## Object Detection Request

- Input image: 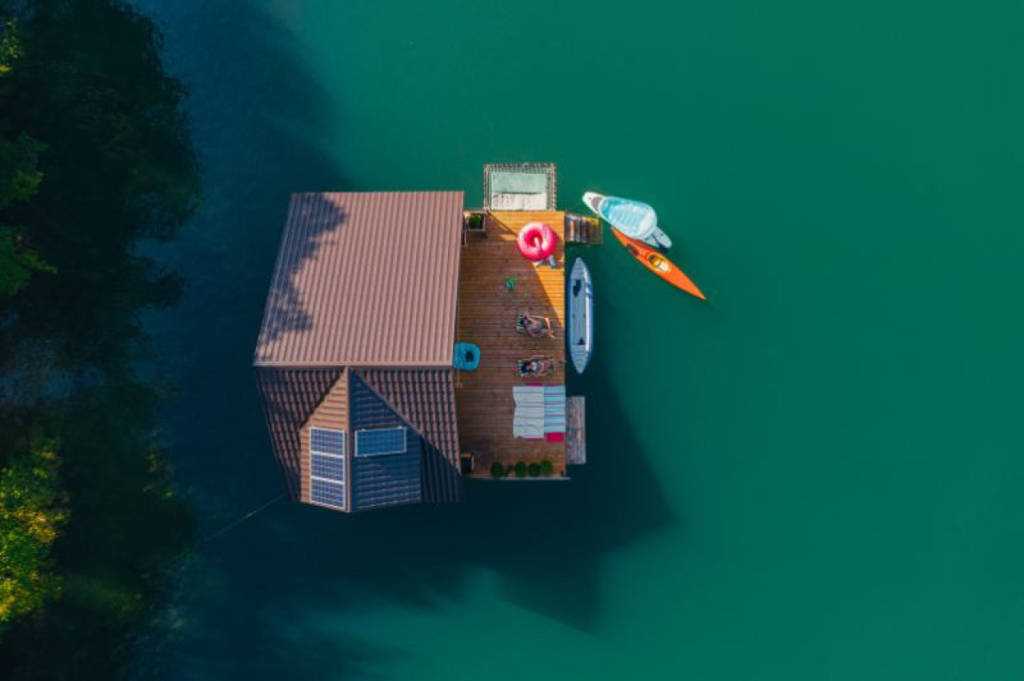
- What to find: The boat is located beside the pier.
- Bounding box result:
[567,258,594,374]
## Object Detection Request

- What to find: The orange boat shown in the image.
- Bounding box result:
[612,228,706,300]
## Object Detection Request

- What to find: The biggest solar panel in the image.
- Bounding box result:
[353,429,404,459]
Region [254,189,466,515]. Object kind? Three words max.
house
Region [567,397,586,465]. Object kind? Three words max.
pier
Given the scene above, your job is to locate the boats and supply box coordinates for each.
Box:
[599,197,658,233]
[567,258,594,374]
[612,228,706,300]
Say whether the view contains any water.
Yes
